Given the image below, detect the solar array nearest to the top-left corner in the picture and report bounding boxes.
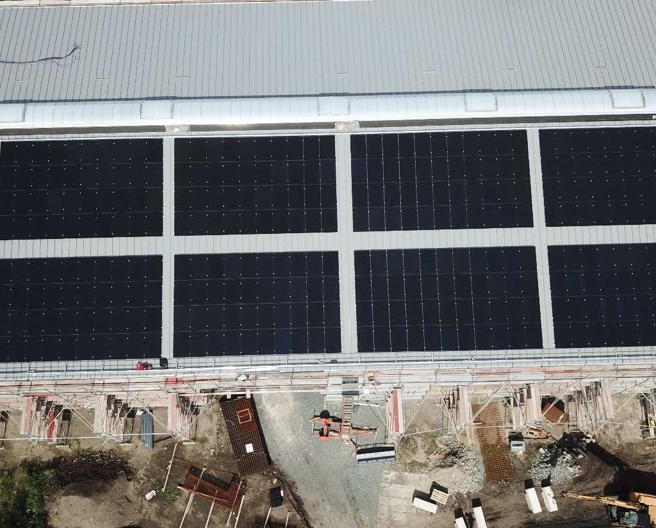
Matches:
[0,138,164,239]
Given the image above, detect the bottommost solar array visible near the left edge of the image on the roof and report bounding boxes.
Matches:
[0,255,163,362]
